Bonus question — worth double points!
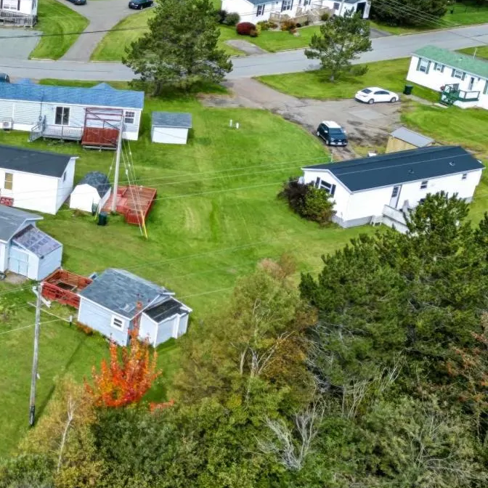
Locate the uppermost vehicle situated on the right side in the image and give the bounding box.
[354,86,403,104]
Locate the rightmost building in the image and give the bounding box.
[406,41,488,107]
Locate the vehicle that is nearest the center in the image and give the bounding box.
[318,112,347,143]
